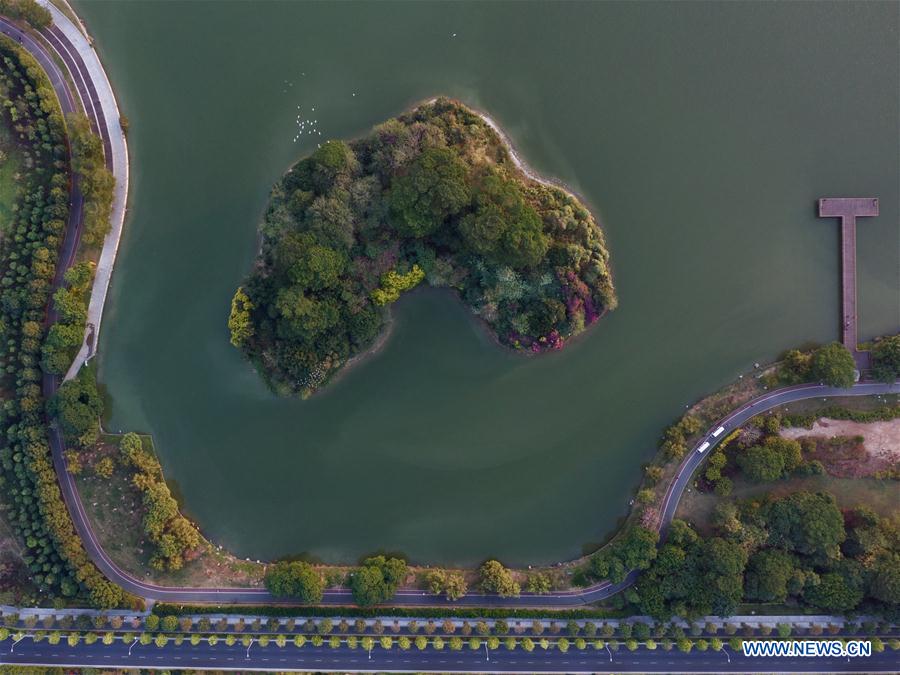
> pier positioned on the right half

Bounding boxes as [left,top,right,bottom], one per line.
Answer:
[819,198,881,383]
